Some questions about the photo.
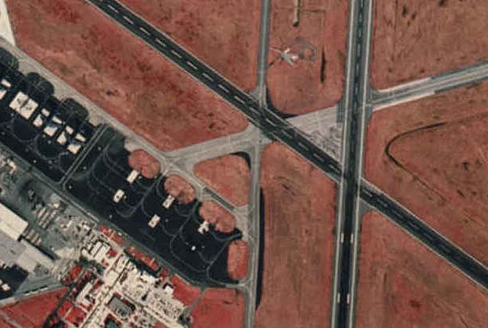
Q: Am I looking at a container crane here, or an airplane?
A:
airplane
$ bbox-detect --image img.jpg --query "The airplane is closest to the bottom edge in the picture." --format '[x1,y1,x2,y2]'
[62,125,85,152]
